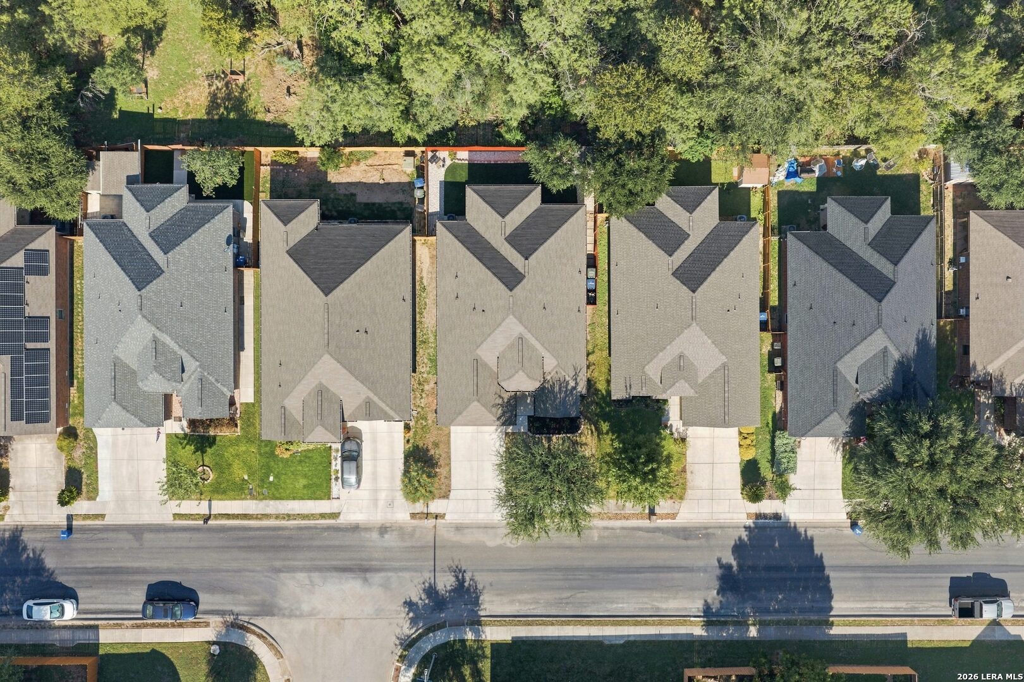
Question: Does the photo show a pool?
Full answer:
No, I can see no pool in this picture.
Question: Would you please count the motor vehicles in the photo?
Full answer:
My tally gives 4 motor vehicles in this view.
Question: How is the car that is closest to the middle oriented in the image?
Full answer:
From this overhead view, the car that is closest to the middle appears to run vertically.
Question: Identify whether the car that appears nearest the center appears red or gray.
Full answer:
From above, the car that appears nearest the center appears gray.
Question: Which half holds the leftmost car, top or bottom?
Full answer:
The leftmost car sits in the bottom half of the picture.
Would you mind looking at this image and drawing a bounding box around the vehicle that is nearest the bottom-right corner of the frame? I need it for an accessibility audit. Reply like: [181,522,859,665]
[946,594,1011,623]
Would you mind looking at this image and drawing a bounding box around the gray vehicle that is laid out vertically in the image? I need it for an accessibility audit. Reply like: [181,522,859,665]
[338,437,364,490]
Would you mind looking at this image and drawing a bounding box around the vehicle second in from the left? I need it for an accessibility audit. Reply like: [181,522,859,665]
[144,598,201,623]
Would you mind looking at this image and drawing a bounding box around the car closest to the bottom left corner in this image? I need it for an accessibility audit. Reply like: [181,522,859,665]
[25,597,82,623]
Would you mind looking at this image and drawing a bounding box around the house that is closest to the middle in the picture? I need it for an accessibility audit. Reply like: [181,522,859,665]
[436,184,587,427]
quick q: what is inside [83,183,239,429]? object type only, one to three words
house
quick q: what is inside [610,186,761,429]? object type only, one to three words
house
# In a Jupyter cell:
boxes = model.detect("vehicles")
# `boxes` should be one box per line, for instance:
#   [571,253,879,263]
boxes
[144,598,201,623]
[338,437,364,490]
[946,594,1011,623]
[25,597,82,623]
